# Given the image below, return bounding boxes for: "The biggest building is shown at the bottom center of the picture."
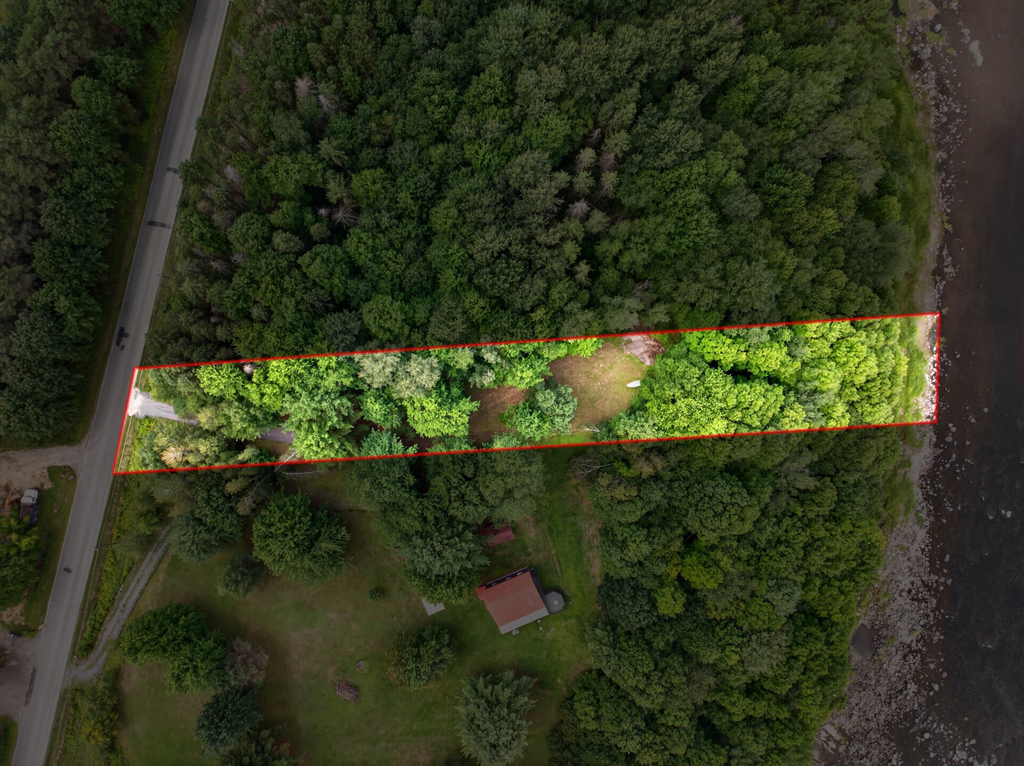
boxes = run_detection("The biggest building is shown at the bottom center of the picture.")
[477,565,548,633]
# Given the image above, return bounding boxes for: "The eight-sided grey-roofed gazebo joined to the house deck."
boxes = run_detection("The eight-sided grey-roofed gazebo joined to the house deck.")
[545,590,565,612]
